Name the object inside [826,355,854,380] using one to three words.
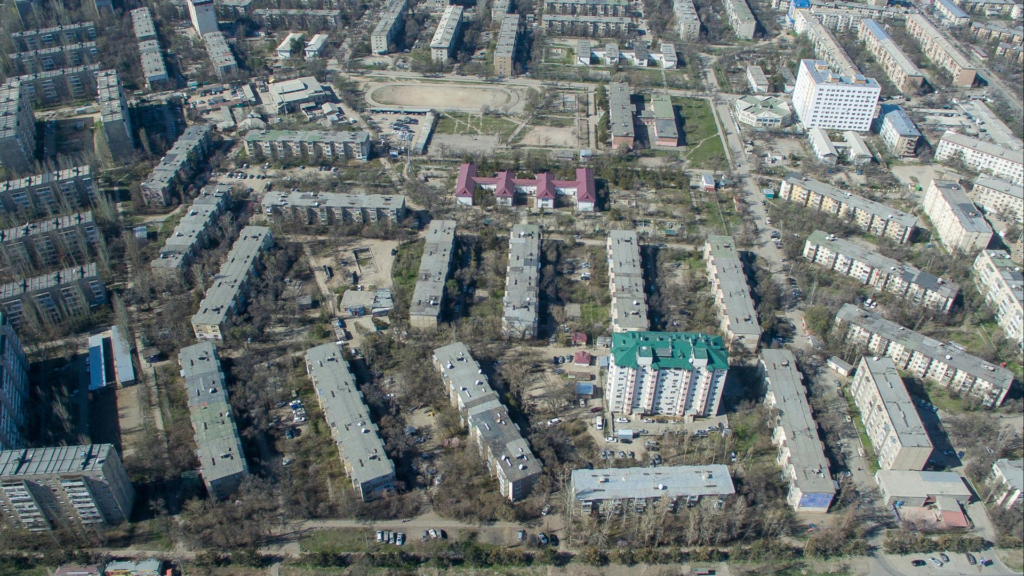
shed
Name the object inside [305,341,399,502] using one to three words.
building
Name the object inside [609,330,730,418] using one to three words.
building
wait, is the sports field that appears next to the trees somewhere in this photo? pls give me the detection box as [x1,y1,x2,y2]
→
[372,85,506,105]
